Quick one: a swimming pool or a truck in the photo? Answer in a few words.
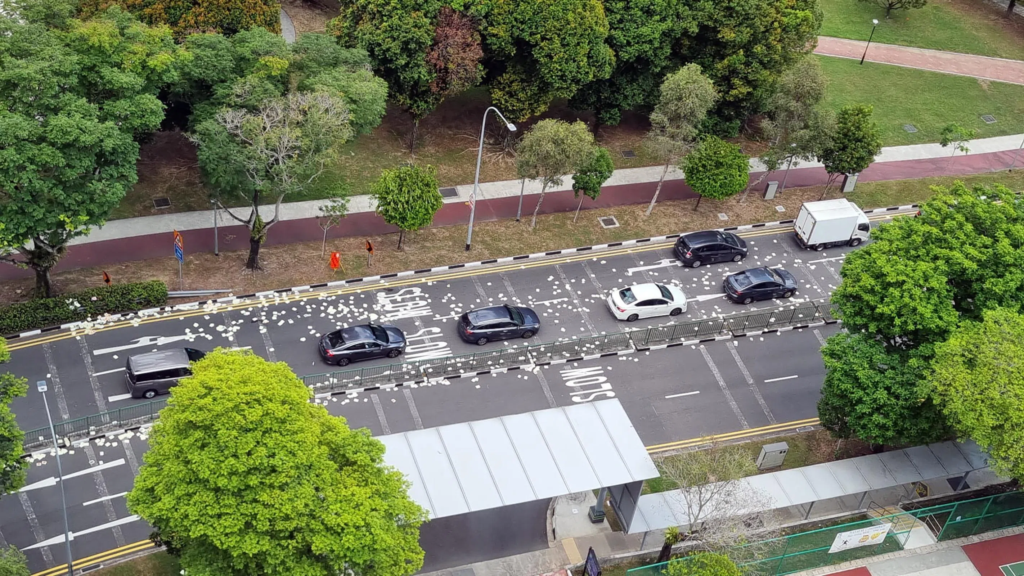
truck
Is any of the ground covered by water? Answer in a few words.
No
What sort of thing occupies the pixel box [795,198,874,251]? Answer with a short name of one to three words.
truck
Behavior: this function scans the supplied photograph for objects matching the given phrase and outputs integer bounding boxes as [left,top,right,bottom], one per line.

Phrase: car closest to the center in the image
[457,303,546,347]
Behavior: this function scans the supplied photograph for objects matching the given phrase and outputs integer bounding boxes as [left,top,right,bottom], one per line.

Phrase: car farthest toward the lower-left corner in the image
[320,322,410,368]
